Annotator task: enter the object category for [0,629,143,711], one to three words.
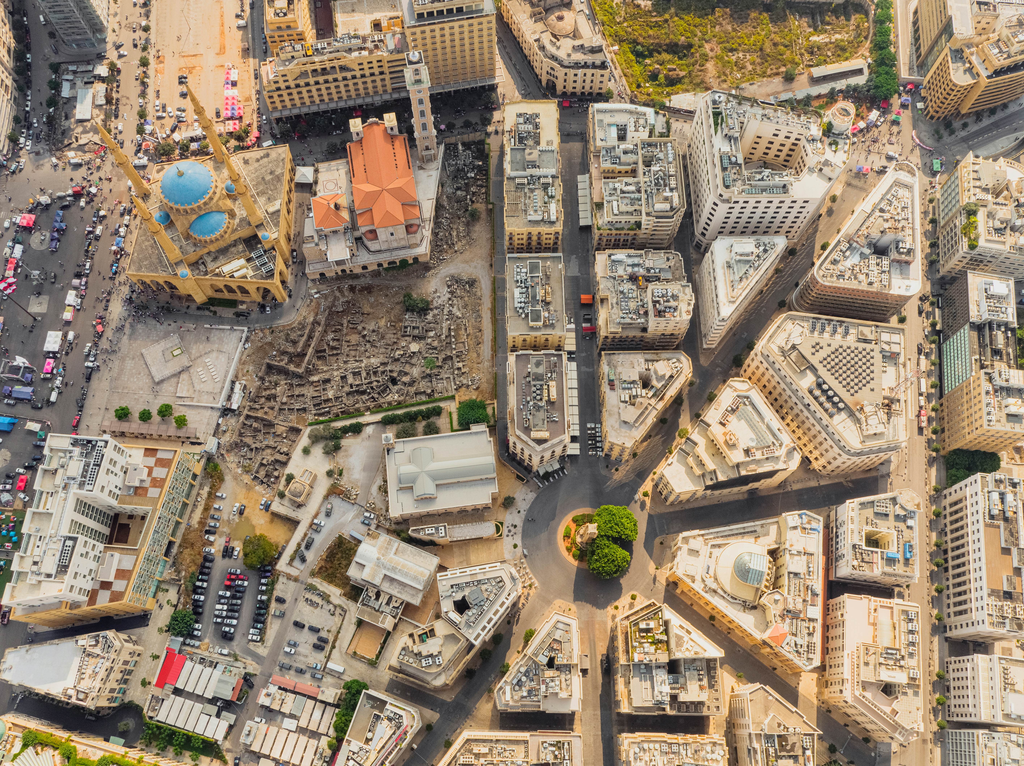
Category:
building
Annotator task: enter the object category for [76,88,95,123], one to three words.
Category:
shed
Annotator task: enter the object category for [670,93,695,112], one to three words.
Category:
shed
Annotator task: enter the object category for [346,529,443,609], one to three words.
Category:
building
